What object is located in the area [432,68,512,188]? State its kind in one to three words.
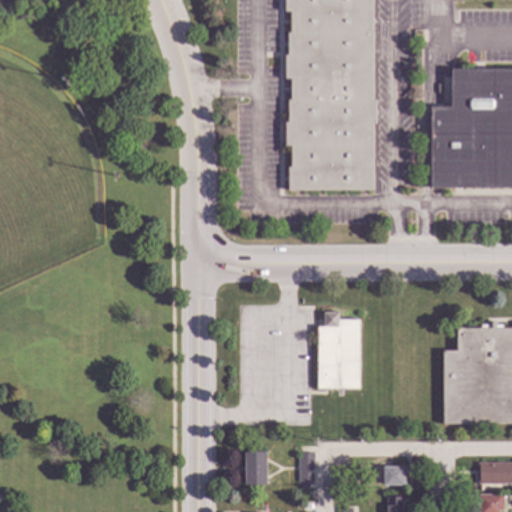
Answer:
building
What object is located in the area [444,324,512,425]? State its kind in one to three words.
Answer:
building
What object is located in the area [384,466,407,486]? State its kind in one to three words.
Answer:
house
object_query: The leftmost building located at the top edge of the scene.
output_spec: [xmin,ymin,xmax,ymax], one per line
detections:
[286,0,376,190]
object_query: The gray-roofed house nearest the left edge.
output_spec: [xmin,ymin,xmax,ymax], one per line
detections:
[246,452,268,485]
